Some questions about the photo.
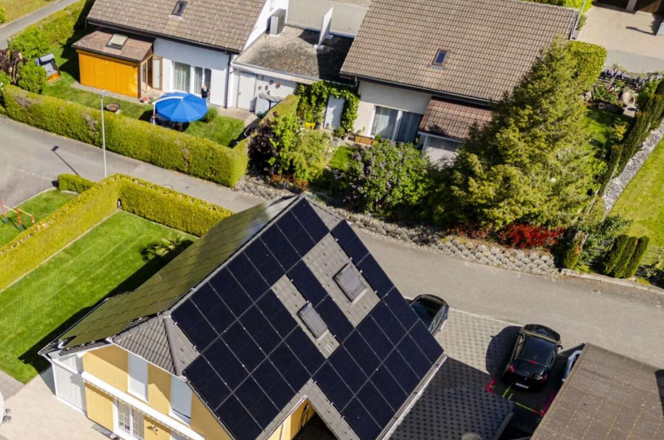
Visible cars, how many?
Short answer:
3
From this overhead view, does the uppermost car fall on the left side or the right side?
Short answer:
right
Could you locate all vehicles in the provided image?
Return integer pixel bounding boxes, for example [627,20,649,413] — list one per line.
[554,341,586,398]
[412,284,464,341]
[502,323,567,393]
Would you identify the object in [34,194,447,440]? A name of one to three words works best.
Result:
house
